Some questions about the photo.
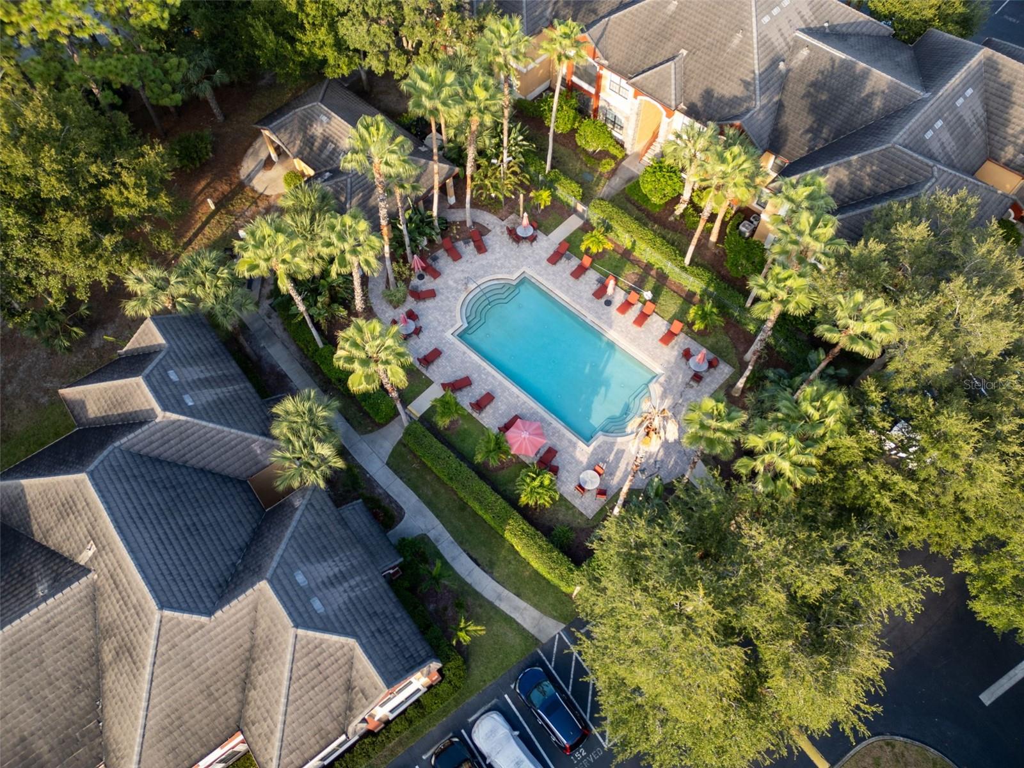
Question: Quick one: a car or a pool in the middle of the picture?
pool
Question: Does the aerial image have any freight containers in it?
No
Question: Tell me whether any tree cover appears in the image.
Yes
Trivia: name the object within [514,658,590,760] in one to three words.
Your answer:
car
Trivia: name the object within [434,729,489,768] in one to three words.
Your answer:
car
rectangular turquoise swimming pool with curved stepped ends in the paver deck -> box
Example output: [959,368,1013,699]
[449,272,664,451]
